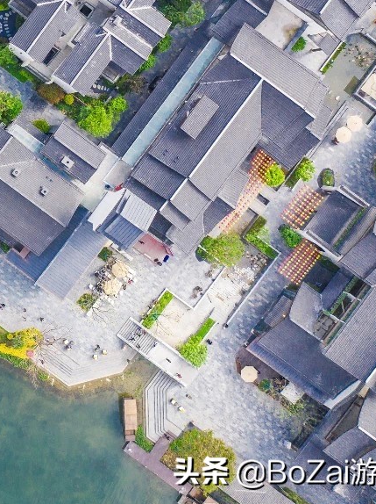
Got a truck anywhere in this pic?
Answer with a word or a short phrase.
No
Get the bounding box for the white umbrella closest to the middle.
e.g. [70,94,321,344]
[111,259,129,278]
